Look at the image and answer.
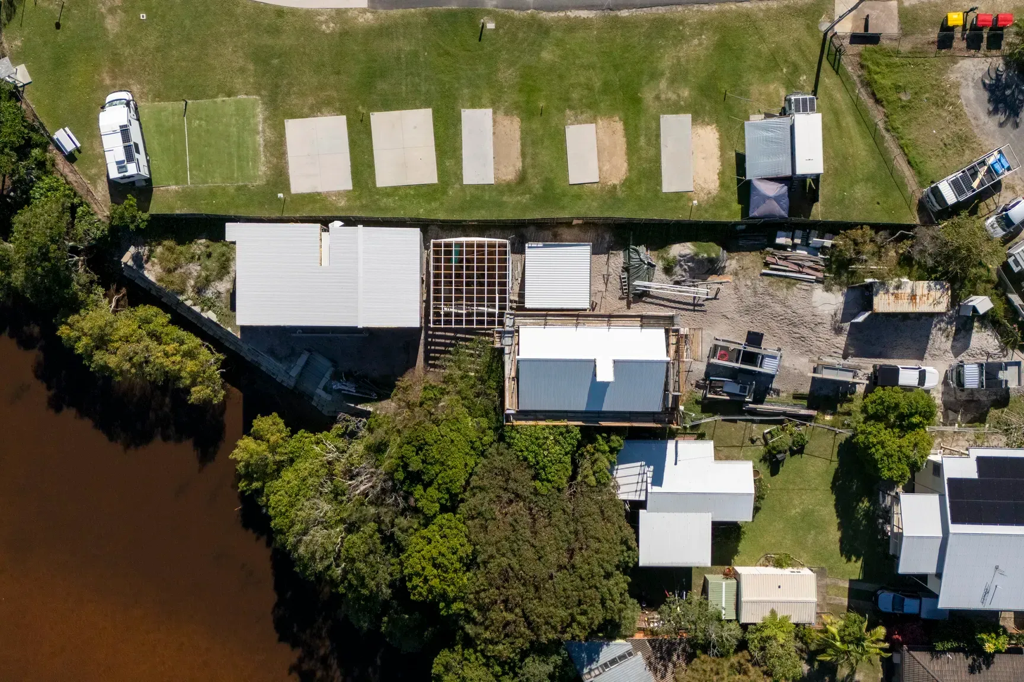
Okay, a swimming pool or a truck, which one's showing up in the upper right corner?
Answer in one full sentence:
Looking in the upper right corner, you will find a truck.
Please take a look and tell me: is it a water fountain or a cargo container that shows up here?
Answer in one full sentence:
There is a cargo container in the scene.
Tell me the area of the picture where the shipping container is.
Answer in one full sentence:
The shipping container appears toward the right of the photo.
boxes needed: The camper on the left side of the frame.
[102,92,154,186]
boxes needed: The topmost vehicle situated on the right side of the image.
[782,94,818,118]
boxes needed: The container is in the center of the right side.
[836,281,952,321]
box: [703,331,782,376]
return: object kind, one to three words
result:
truck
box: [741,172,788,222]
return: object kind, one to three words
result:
gazebo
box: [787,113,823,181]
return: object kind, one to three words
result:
vehicle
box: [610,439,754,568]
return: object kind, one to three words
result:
house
